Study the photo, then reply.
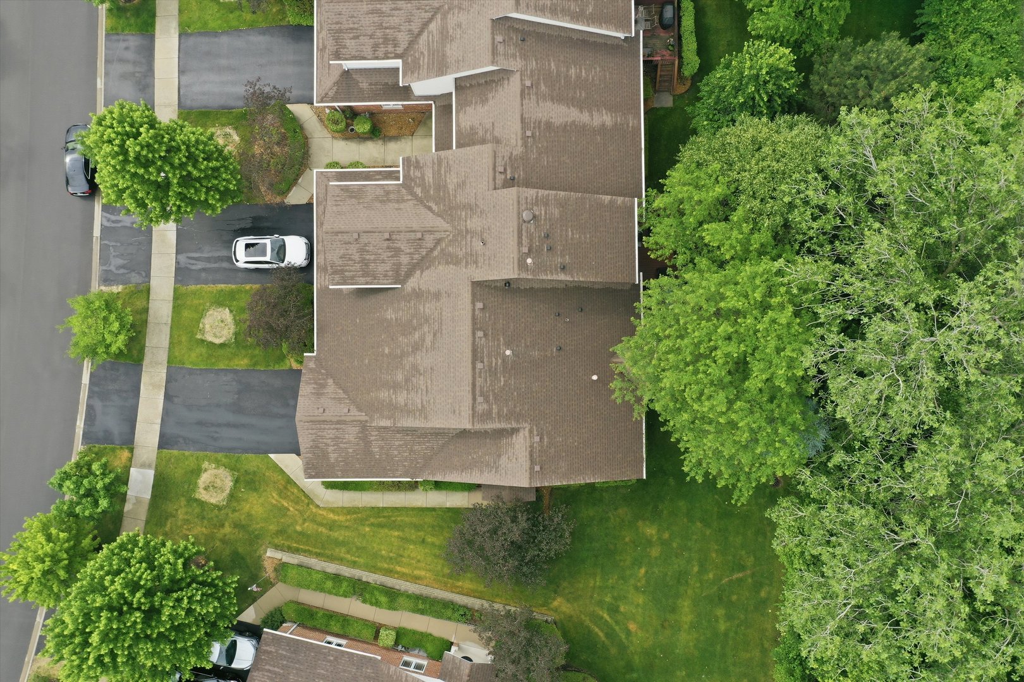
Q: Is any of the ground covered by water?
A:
No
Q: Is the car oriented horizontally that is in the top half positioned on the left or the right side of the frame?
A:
left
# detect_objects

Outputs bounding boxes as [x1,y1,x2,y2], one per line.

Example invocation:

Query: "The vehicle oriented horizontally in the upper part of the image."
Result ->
[234,233,312,270]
